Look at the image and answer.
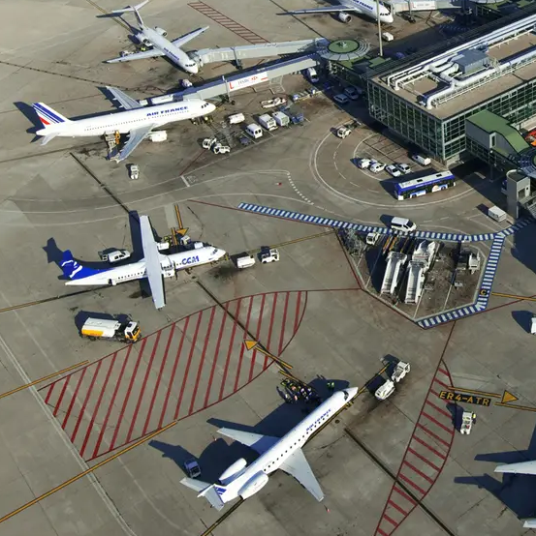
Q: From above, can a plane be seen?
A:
Yes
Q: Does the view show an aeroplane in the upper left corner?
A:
Yes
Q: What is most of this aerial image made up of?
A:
paved ground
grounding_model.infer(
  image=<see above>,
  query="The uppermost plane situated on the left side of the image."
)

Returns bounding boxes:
[104,2,208,76]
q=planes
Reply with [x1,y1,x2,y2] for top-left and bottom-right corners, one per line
[104,2,208,76]
[55,216,226,307]
[30,85,217,164]
[286,0,392,25]
[192,388,357,505]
